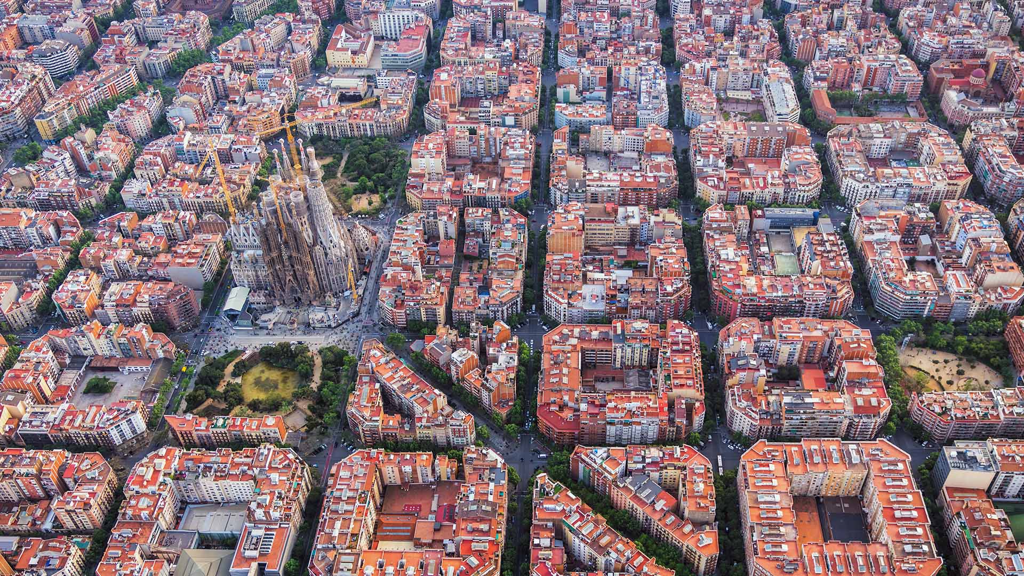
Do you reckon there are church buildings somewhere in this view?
Yes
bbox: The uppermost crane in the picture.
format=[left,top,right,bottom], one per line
[253,100,377,175]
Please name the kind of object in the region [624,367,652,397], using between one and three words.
building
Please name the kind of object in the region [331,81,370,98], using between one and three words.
building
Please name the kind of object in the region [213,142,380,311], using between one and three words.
church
